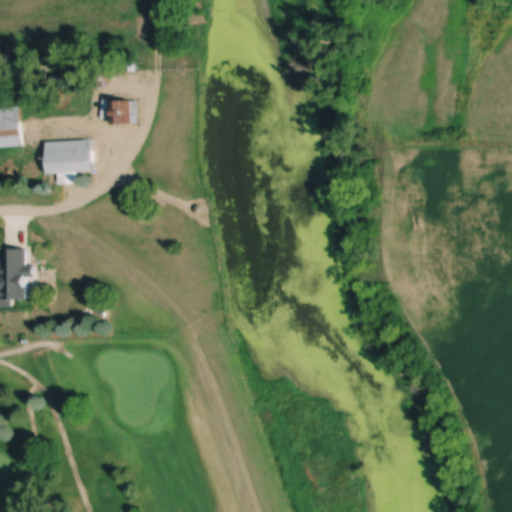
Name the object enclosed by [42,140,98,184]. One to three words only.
house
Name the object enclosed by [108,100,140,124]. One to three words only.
barn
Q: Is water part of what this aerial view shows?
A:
Yes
